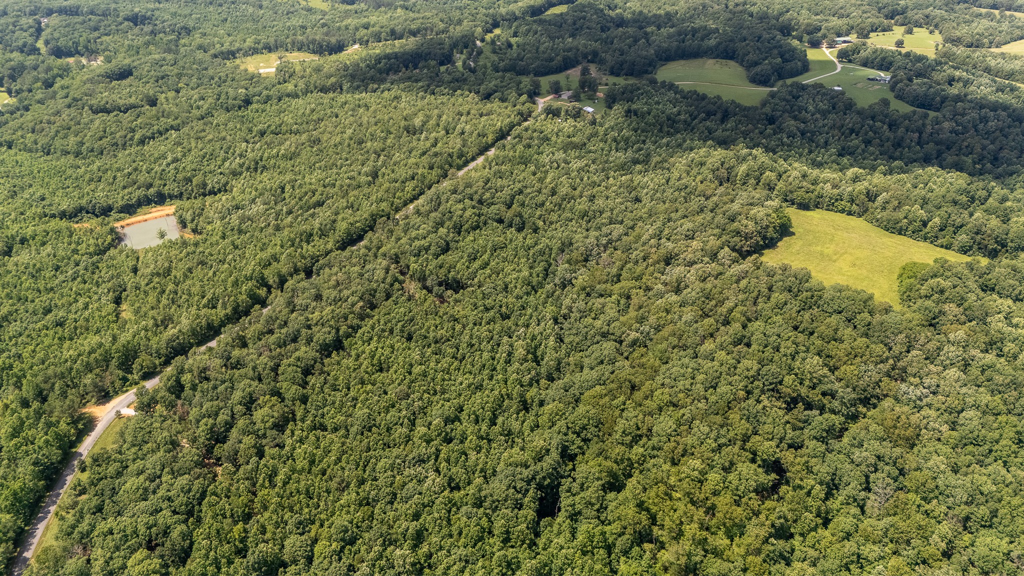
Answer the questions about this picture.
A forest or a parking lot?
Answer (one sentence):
It's a forest.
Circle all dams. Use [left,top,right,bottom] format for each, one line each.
[112,205,176,230]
